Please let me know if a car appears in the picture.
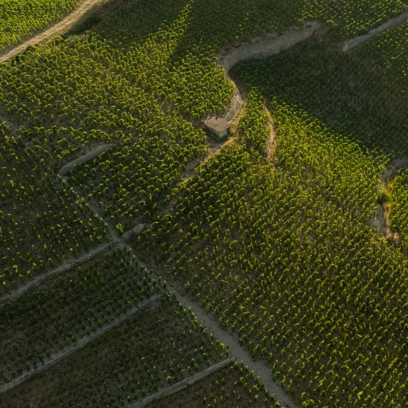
No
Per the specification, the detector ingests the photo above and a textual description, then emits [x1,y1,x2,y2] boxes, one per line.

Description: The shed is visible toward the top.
[199,117,234,144]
